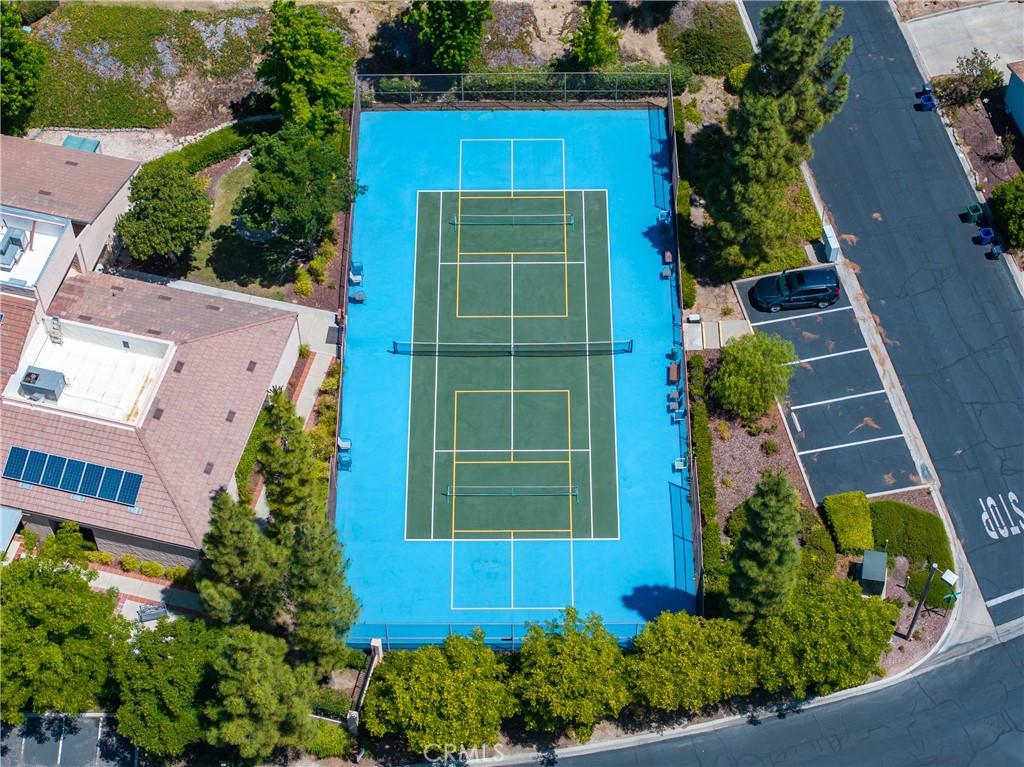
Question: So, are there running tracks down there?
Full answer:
No, there appears to be no running track in this shot.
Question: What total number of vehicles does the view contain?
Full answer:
There is 1 vehicle in the image.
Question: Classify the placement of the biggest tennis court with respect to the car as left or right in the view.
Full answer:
Looking at the picture, you'll find the biggest tennis court to the left of the car.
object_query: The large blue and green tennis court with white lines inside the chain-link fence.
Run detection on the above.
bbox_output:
[329,109,697,651]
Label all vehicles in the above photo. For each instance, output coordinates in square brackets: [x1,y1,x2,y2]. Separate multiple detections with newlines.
[750,265,843,312]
